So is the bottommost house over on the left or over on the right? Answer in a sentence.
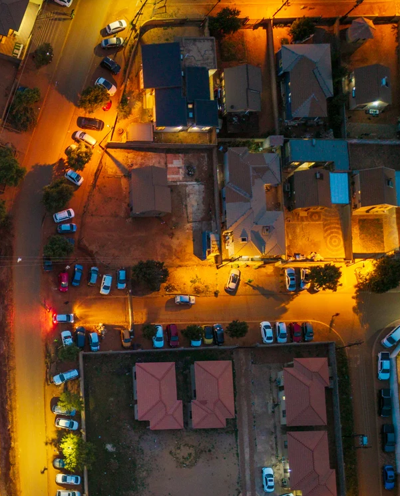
The bottommost house is on the right side of the image.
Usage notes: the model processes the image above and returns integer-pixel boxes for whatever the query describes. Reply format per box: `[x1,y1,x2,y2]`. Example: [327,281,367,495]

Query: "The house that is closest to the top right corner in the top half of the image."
[347,63,392,109]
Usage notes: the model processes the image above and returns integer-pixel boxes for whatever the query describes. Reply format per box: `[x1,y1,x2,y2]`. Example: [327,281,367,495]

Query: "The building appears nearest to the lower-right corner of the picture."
[281,430,337,496]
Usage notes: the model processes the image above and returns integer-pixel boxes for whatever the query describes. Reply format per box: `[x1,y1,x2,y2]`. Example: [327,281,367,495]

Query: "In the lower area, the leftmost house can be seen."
[133,363,184,429]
